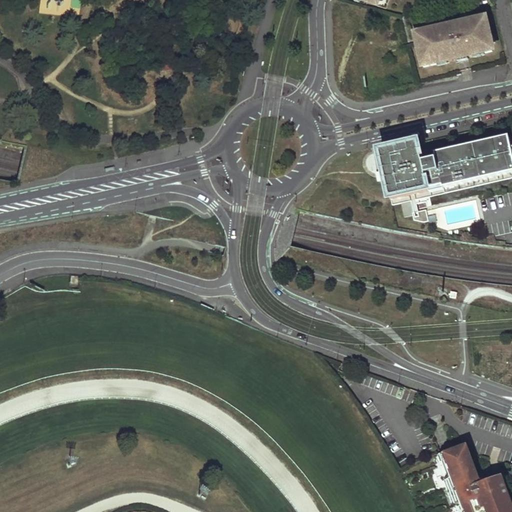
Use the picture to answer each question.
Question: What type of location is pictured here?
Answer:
sports ground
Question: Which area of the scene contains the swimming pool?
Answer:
right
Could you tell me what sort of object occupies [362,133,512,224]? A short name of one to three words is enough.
building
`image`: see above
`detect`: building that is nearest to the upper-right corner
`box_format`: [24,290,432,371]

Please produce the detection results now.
[411,11,494,70]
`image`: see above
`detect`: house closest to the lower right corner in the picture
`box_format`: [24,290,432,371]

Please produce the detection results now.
[433,442,512,512]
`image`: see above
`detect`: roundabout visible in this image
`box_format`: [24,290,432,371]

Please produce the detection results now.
[220,98,319,197]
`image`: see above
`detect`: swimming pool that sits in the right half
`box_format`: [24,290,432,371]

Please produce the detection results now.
[431,196,484,232]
